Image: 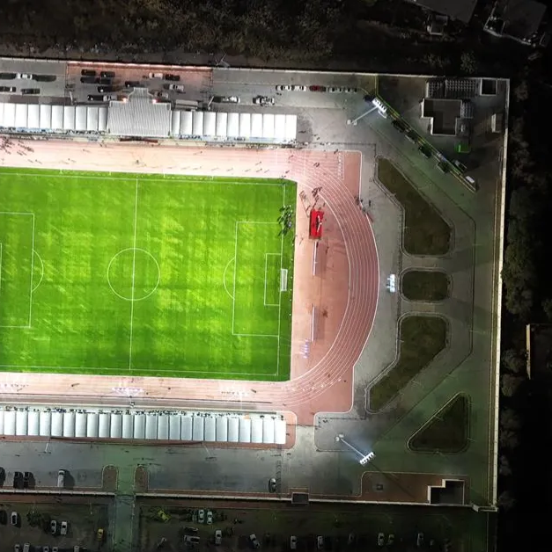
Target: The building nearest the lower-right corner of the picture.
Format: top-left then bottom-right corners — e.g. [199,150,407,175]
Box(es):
[423,478,464,506]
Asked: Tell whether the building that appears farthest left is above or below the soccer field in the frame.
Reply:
above it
